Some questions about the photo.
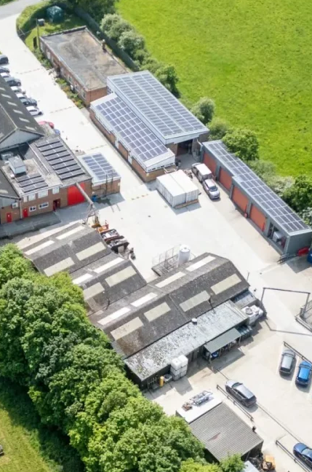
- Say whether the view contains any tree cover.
Yes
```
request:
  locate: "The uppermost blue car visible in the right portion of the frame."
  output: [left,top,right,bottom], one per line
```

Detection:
[296,362,312,387]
